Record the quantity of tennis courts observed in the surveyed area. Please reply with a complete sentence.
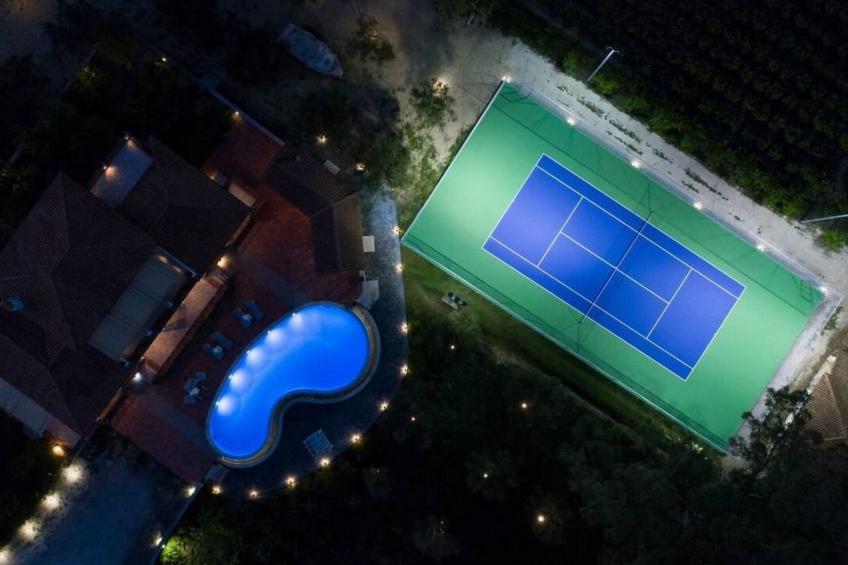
The count comes to 1 tennis court.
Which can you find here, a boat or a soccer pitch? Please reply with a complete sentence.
The one in the frame is a boat.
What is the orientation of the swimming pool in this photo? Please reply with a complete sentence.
The swimming pool runs at an angle in the image.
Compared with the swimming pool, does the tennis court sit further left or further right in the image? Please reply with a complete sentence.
Looking at the picture, you'll find the tennis court to the right of the swimming pool.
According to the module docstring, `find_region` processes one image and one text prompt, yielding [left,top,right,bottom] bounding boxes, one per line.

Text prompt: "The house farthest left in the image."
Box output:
[0,135,253,447]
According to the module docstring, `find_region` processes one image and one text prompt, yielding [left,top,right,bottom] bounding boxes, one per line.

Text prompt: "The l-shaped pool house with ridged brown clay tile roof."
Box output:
[263,142,375,272]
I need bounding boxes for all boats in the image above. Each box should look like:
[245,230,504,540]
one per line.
[279,26,341,72]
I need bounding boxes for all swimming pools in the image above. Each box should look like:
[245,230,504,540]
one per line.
[205,299,379,470]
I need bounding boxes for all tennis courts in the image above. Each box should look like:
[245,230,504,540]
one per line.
[402,82,828,450]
